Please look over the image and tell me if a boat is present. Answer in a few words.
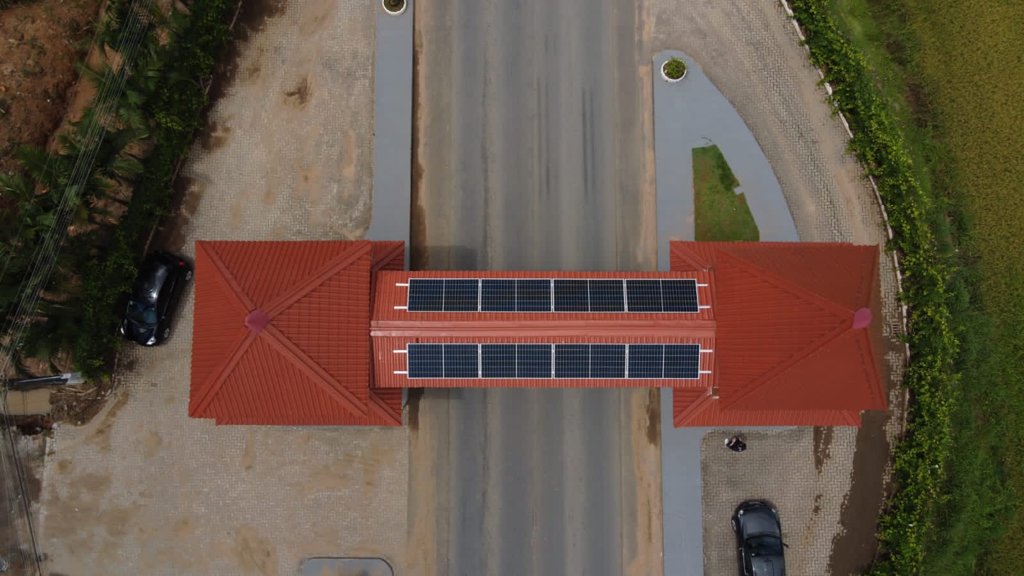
No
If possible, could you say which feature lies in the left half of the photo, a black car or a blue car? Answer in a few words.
black car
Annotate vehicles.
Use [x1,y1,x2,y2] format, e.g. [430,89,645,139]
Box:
[115,247,189,349]
[734,502,794,576]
